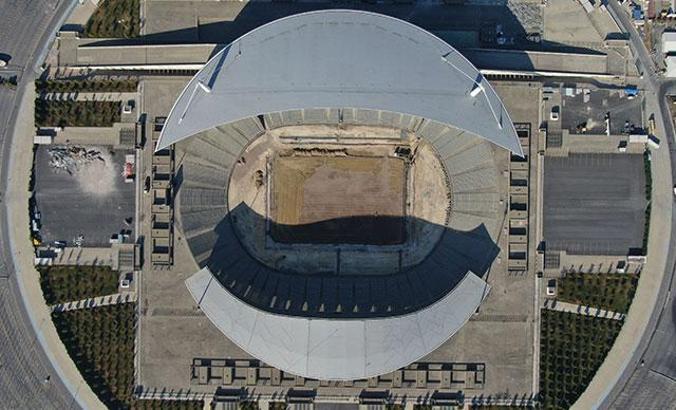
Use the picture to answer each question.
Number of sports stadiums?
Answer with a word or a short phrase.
1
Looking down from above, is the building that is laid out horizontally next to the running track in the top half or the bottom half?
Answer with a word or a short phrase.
bottom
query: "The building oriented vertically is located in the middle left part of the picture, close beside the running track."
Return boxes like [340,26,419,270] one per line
[151,116,170,266]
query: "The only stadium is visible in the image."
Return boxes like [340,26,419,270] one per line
[154,9,524,381]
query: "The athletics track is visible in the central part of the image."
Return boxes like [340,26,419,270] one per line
[229,127,450,276]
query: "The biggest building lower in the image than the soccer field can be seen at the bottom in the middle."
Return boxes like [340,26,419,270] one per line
[191,359,489,387]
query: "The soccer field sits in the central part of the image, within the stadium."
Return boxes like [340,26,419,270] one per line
[267,152,411,252]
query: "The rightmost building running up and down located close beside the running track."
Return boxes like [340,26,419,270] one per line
[508,121,530,272]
